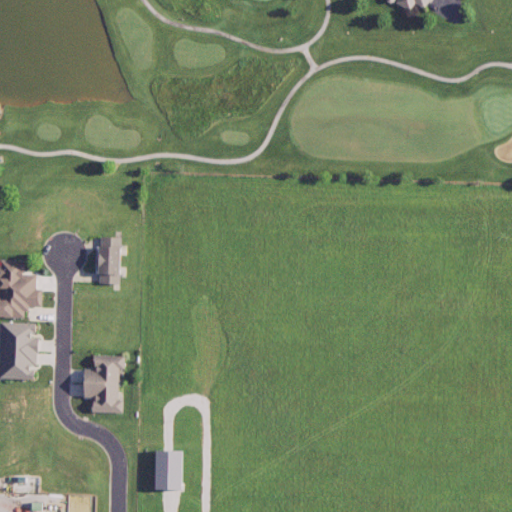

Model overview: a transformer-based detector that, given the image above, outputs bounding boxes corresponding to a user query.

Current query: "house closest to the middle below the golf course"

[98,232,122,290]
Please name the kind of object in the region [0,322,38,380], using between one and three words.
house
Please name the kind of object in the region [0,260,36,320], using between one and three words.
house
